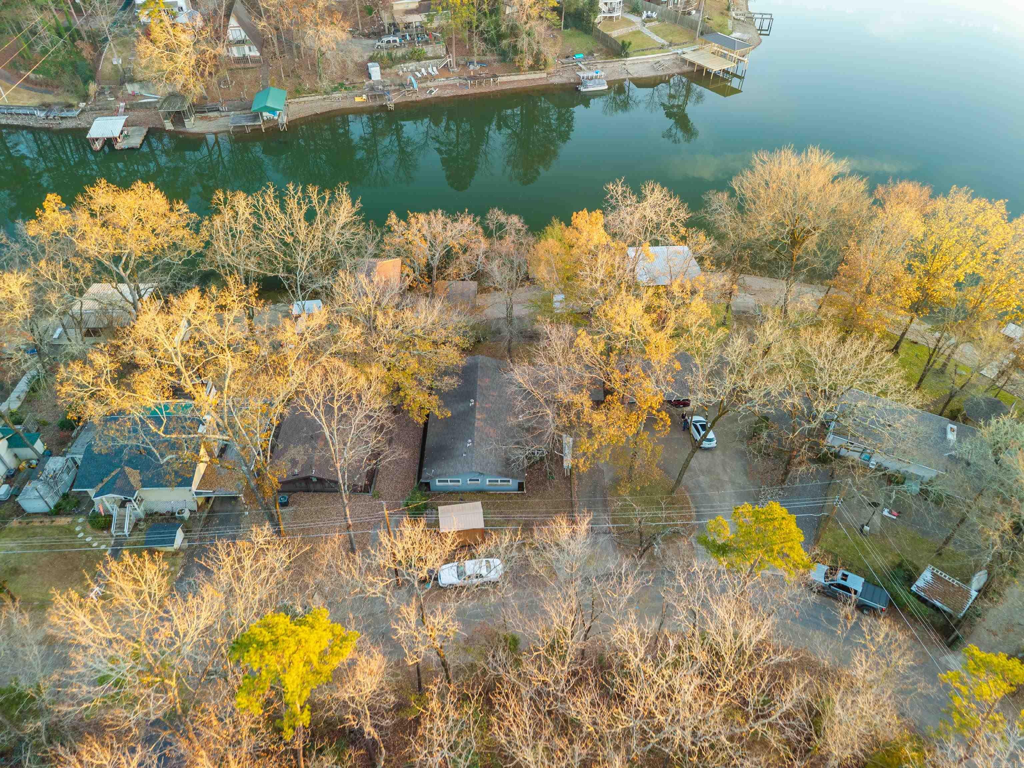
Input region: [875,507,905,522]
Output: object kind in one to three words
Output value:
work vehicle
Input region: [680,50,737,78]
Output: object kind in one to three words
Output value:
pier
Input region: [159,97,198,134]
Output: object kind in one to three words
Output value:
building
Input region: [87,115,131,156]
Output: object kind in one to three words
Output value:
building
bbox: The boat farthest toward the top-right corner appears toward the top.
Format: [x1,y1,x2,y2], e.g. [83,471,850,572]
[578,79,607,92]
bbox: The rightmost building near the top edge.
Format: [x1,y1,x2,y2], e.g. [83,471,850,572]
[700,29,754,73]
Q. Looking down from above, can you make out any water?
Yes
